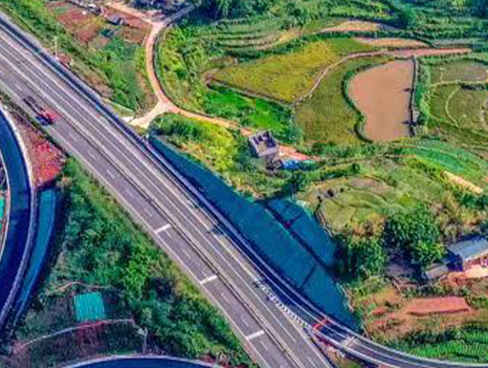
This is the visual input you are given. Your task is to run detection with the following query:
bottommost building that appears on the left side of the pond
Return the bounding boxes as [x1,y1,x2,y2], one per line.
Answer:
[250,127,287,157]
